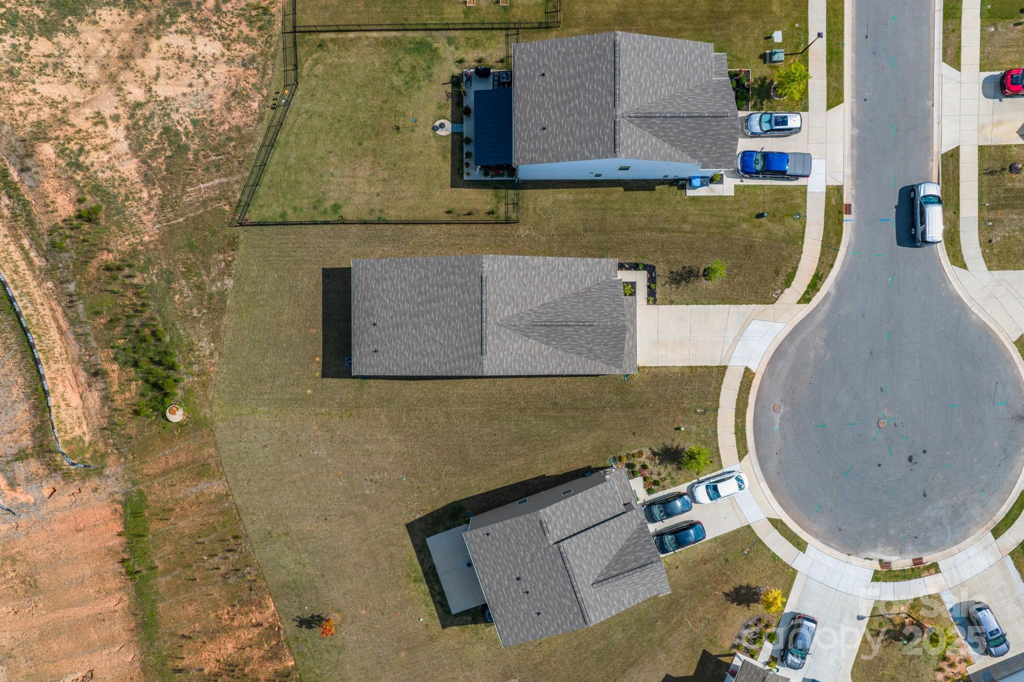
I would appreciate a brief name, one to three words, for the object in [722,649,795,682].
house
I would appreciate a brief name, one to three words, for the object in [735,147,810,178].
truck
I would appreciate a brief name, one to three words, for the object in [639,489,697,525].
car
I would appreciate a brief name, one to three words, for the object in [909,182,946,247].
car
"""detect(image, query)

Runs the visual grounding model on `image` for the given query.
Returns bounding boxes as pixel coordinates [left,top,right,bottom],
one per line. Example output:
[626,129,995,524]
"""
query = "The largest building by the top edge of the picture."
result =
[511,33,739,180]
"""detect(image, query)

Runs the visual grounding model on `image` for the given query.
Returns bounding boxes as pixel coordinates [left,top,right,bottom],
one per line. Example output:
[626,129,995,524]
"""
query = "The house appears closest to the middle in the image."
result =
[351,255,637,377]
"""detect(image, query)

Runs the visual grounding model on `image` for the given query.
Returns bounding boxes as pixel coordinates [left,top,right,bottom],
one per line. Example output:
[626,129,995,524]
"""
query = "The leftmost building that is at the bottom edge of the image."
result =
[461,463,671,649]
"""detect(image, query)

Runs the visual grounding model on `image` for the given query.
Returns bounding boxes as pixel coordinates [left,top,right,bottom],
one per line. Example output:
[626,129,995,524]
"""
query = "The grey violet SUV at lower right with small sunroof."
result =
[968,603,1016,660]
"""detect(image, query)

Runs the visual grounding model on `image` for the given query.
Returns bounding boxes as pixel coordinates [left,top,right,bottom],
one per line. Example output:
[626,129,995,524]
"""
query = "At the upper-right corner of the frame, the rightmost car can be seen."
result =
[998,69,1024,96]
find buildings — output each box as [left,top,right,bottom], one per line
[511,33,739,180]
[461,463,671,649]
[722,649,795,682]
[351,255,637,377]
[996,670,1024,682]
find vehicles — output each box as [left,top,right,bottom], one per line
[691,470,751,504]
[968,603,1016,660]
[735,147,810,178]
[639,489,697,525]
[998,69,1024,96]
[652,518,710,554]
[742,107,801,137]
[909,182,946,247]
[781,614,820,672]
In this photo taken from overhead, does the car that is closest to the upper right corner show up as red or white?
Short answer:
red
